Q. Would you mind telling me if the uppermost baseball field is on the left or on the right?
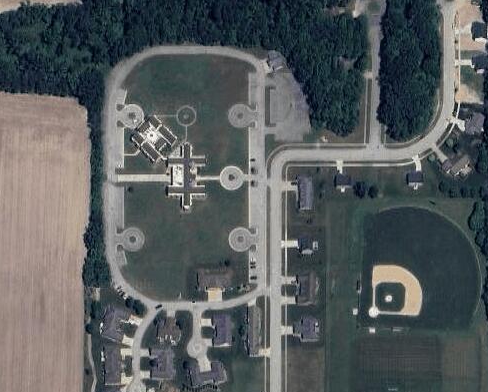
right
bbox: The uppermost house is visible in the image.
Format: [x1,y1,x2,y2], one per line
[471,22,488,42]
